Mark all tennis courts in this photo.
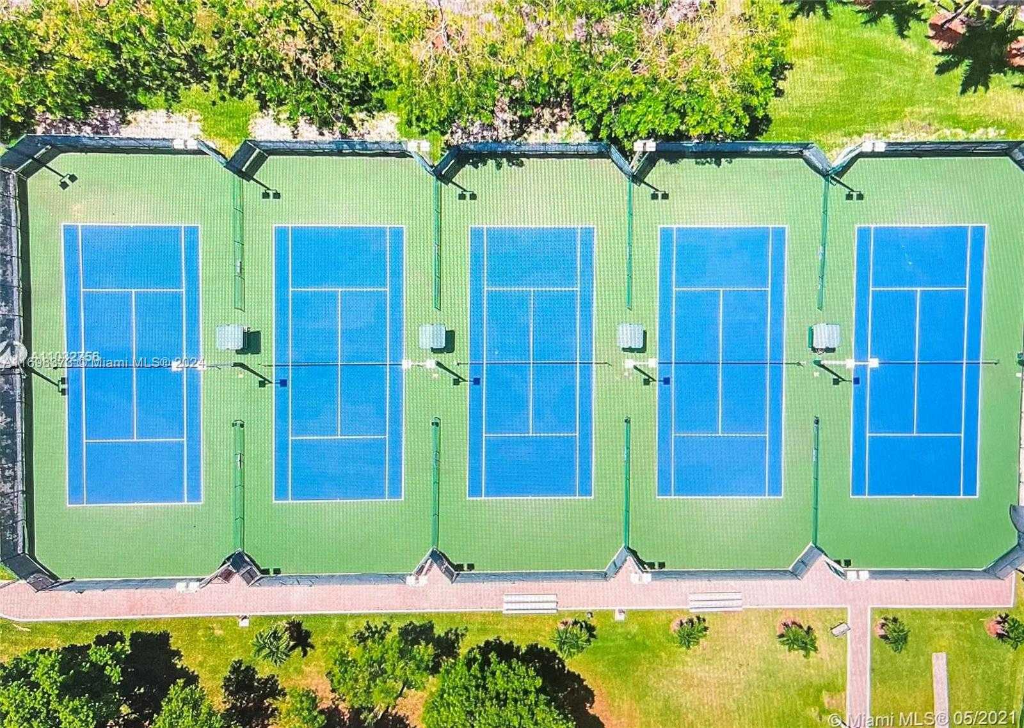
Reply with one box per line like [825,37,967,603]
[467,225,596,499]
[851,223,988,498]
[273,225,405,503]
[62,223,203,507]
[657,225,788,498]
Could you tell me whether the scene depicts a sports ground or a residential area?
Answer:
sports ground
